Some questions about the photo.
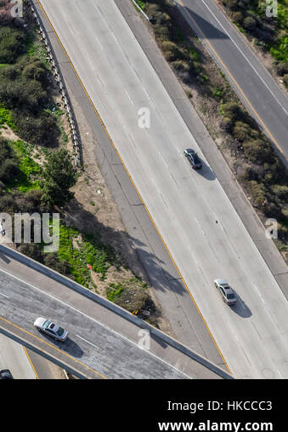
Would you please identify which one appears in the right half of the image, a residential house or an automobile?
automobile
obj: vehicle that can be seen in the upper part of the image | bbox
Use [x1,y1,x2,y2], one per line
[182,148,203,171]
